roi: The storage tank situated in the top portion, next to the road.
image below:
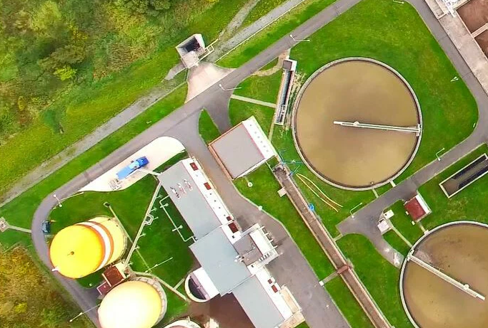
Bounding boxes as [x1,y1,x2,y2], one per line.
[290,60,422,190]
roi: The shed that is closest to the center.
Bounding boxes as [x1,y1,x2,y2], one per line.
[210,121,276,178]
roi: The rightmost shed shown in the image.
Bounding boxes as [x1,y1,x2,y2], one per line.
[404,195,427,221]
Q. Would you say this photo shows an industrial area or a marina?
industrial area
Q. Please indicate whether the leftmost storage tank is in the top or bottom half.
bottom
